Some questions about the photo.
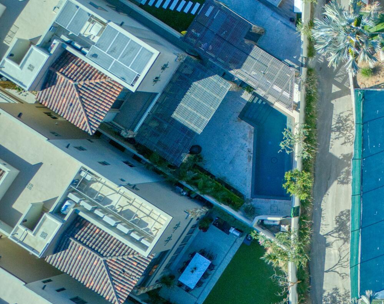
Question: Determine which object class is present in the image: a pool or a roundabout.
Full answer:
Of the two, only a pool appears.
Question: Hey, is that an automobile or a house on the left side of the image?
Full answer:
The feature located on the left side of the image is a house.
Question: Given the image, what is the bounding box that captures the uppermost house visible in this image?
[0,0,217,144]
